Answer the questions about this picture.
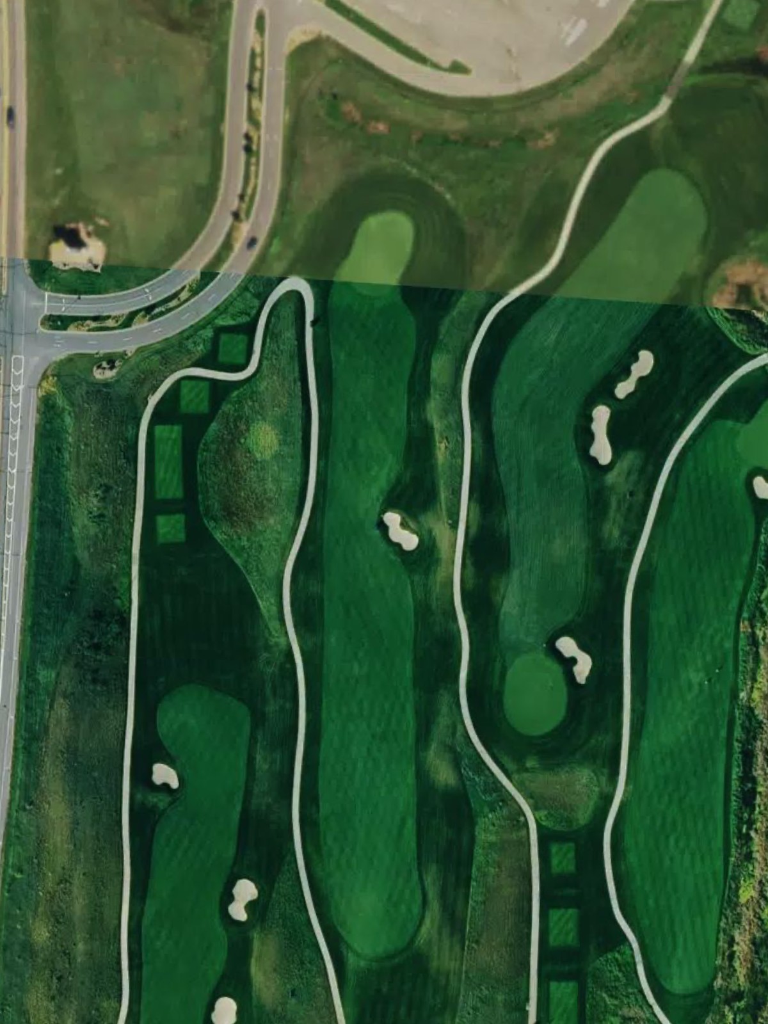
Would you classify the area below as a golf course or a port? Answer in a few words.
golf course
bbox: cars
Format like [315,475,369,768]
[7,108,14,123]
[246,235,257,250]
